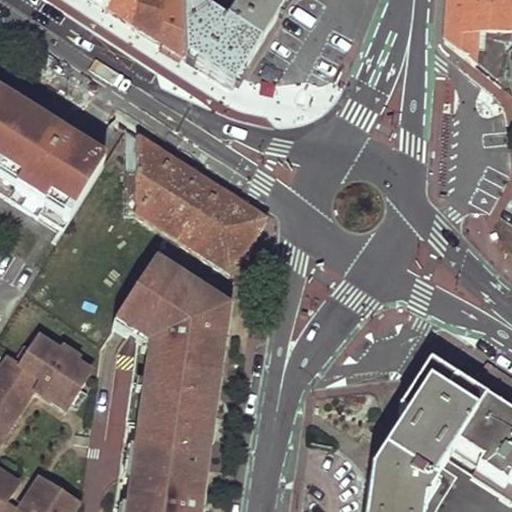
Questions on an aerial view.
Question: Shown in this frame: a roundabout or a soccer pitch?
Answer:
roundabout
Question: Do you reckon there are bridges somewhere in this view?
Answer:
No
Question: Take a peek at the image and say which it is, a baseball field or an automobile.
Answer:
automobile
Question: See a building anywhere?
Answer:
Yes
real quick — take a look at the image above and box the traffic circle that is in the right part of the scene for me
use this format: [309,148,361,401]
[304,154,412,262]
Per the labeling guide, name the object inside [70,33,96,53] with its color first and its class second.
white vehicle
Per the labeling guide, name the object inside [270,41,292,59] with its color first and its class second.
white car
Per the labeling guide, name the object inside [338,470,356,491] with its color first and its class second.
white car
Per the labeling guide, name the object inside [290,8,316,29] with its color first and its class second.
white vehicle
